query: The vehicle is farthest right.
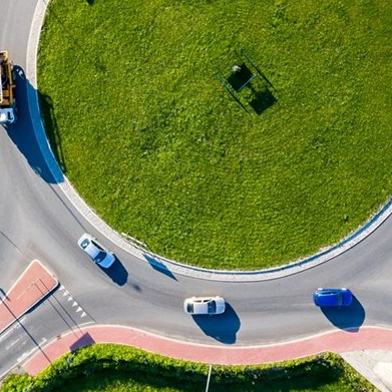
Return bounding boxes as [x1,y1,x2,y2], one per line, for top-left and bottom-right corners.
[315,287,352,307]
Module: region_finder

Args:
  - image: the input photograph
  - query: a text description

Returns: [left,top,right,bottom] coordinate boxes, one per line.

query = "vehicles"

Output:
[78,232,115,266]
[186,295,224,315]
[315,287,352,307]
[0,49,20,124]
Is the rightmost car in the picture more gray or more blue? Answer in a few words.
blue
